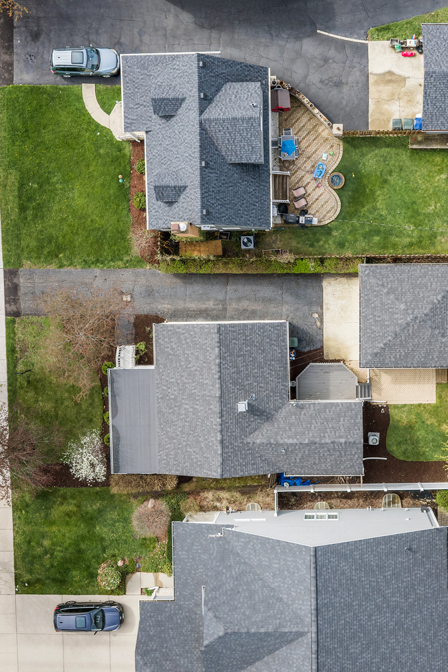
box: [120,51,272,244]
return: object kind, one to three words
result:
house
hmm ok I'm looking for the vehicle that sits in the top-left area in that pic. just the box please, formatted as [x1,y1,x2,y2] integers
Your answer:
[48,44,120,80]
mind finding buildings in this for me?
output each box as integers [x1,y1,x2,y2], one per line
[421,23,448,136]
[120,51,272,244]
[109,320,364,479]
[359,263,448,368]
[136,507,448,672]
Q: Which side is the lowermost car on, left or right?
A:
left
